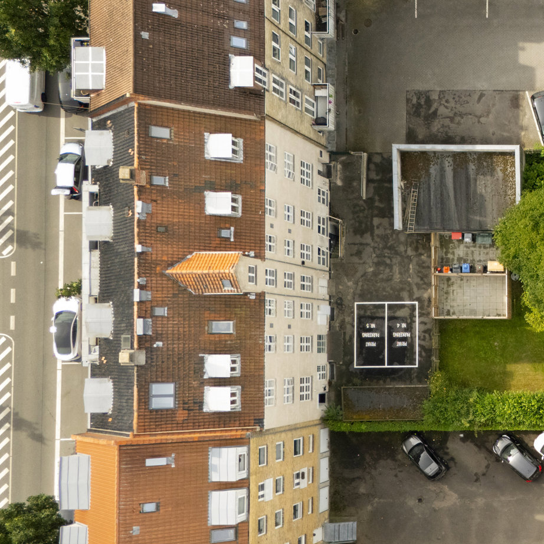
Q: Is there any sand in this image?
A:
No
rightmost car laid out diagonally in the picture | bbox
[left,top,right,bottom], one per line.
[493,432,543,484]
